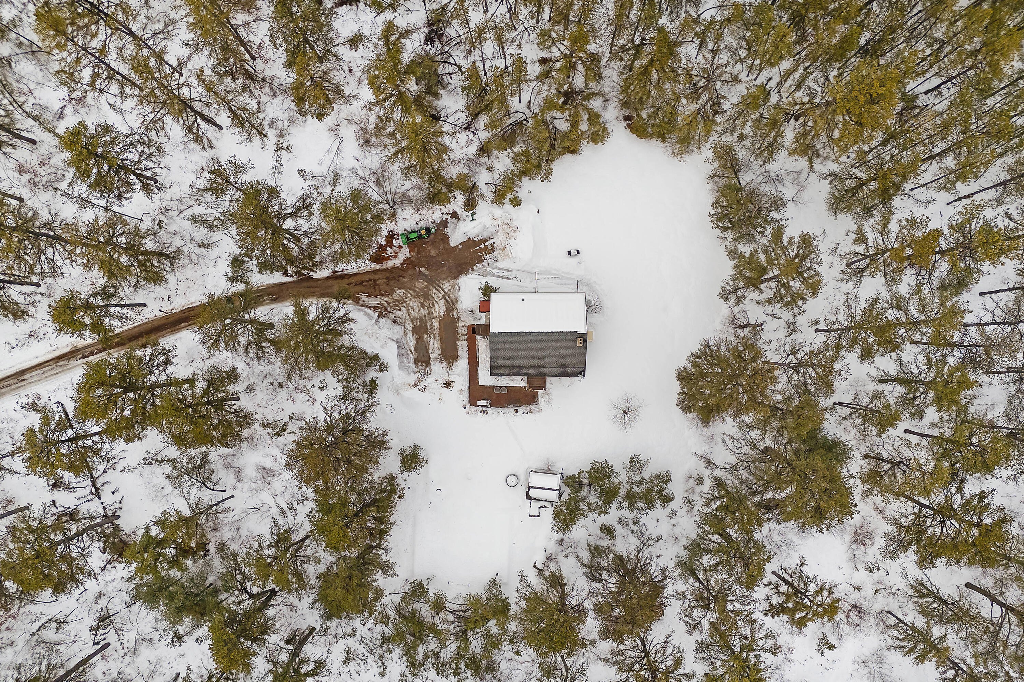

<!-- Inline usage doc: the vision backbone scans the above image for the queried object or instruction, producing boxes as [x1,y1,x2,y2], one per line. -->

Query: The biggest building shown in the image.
[489,292,589,377]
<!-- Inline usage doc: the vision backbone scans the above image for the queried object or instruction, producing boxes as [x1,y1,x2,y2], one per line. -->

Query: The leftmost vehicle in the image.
[401,224,436,246]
